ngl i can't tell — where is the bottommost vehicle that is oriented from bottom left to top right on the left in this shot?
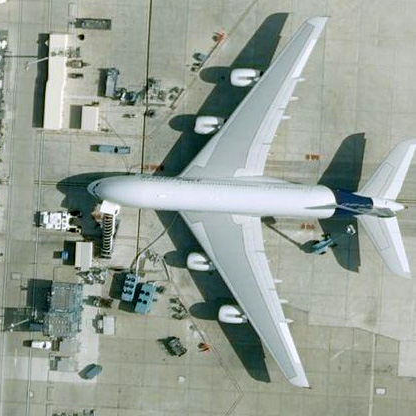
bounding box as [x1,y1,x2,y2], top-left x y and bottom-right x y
[83,362,104,380]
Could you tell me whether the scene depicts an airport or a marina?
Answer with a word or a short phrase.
airport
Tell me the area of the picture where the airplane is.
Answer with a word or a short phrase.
center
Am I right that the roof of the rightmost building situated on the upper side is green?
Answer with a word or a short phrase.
No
